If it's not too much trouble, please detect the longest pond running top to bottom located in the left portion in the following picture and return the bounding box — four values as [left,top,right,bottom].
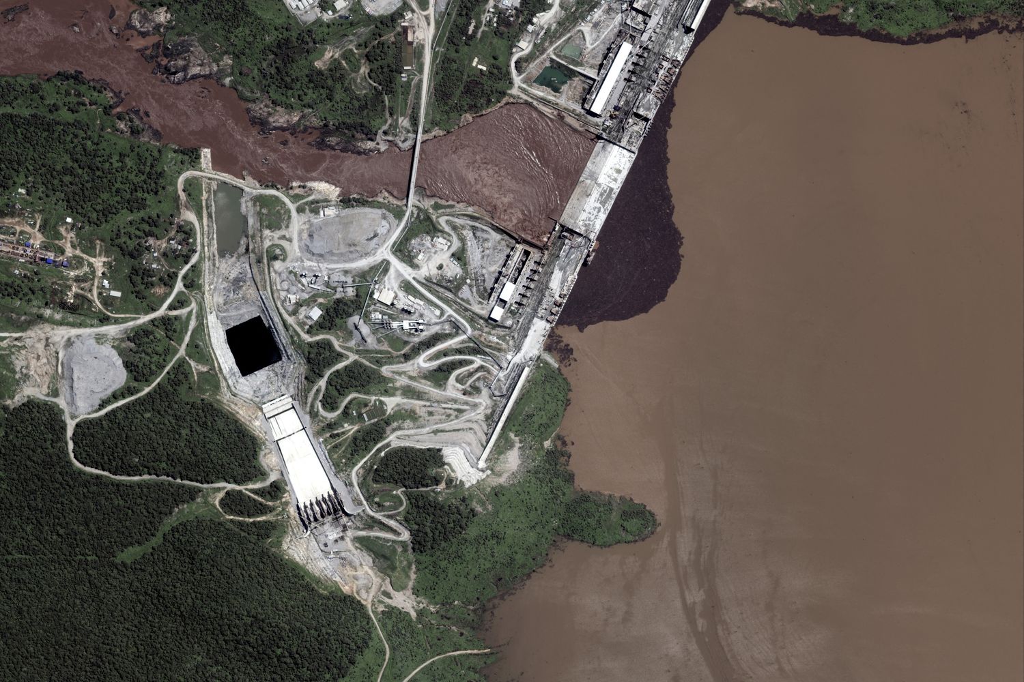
[215,182,248,261]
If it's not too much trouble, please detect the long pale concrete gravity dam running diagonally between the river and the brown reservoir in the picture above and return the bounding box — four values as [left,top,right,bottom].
[477,0,712,465]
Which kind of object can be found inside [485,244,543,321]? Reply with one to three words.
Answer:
building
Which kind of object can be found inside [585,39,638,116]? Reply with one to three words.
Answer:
building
